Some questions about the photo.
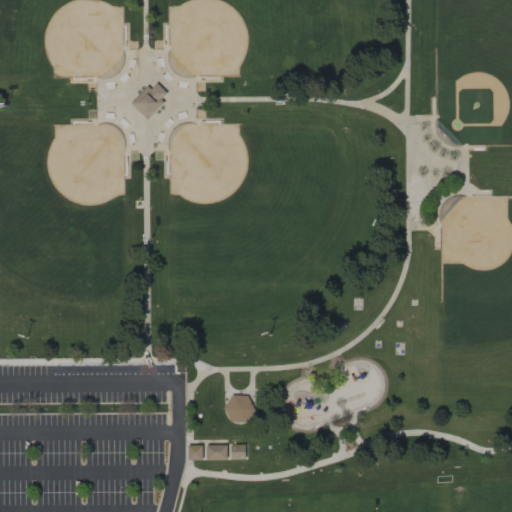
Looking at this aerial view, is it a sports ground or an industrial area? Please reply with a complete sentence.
The picture captures a sports ground.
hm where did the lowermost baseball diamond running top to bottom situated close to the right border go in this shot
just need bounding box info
[440,196,512,347]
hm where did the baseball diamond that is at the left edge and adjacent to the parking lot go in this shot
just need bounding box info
[0,122,126,296]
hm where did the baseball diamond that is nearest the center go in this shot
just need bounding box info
[170,122,340,302]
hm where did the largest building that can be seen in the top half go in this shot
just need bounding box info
[133,82,168,118]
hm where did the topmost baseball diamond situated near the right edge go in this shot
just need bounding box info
[437,0,512,146]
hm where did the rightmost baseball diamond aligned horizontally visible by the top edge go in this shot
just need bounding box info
[168,0,342,78]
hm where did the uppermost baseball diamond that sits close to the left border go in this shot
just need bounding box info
[0,0,125,78]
